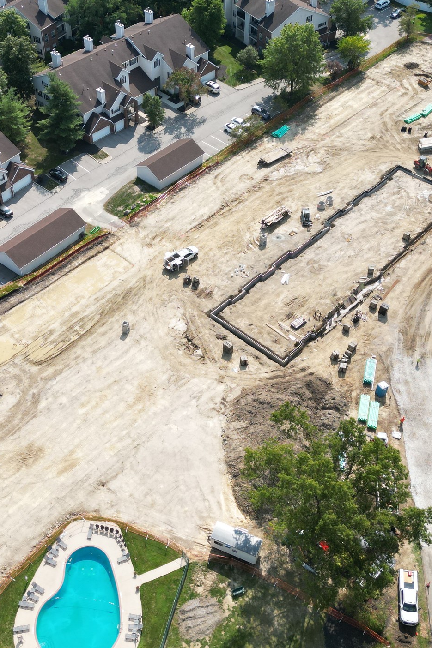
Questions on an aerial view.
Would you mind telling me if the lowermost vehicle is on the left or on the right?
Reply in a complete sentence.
The lowermost vehicle is on the right side of the image.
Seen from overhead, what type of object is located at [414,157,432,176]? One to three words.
work vehicle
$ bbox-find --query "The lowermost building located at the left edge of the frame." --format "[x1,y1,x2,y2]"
[0,203,88,275]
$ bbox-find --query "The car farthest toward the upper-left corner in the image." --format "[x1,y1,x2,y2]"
[48,168,70,183]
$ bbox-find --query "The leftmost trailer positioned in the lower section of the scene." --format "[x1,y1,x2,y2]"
[212,519,264,563]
